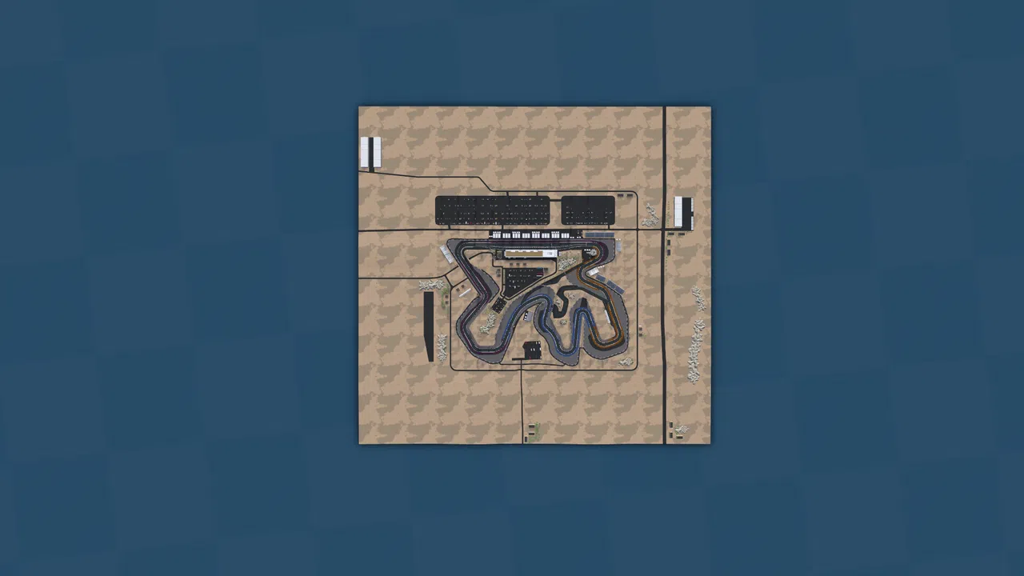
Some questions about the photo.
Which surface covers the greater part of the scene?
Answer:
water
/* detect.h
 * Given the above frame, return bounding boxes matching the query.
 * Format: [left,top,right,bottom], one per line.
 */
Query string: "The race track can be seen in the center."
[458,243,621,354]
